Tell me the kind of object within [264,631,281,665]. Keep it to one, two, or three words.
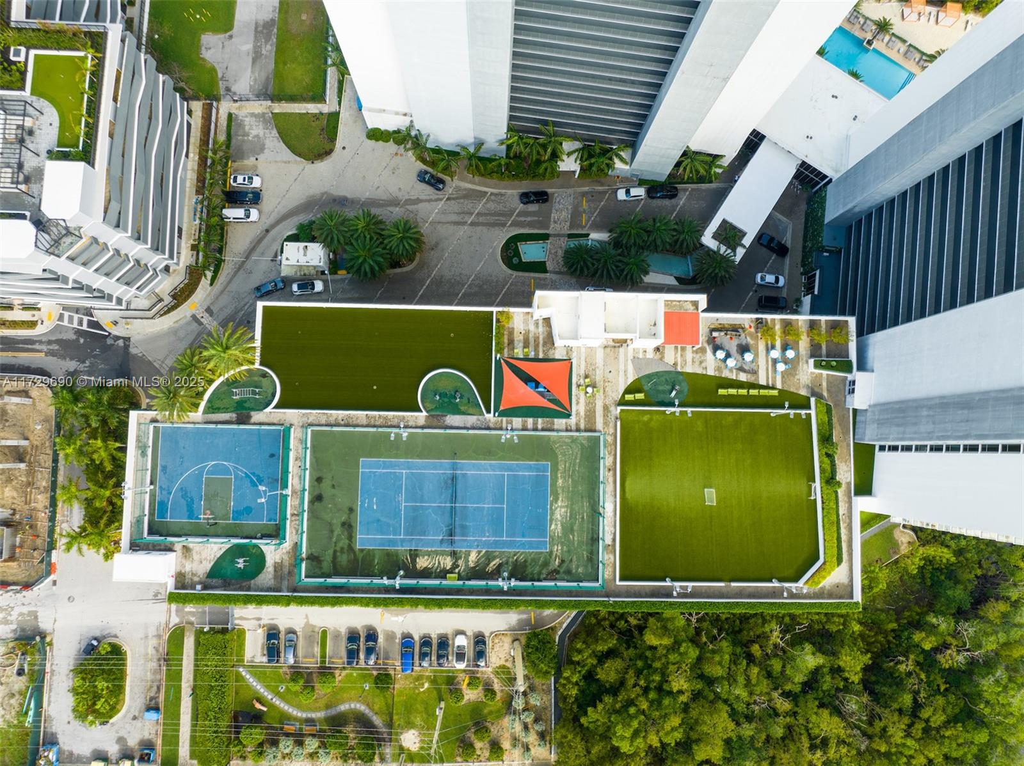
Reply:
car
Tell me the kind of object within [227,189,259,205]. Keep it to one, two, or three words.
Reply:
car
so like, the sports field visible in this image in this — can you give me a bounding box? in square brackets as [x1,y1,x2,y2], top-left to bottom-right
[617,397,826,587]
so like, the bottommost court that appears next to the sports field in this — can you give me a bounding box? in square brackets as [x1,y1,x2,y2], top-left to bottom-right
[305,431,600,580]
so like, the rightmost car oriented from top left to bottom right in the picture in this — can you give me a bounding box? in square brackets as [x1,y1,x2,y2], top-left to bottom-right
[758,233,787,256]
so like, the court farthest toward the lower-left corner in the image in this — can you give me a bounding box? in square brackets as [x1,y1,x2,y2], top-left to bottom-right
[147,427,281,541]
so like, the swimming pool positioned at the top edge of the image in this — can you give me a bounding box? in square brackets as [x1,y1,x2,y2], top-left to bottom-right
[822,26,917,99]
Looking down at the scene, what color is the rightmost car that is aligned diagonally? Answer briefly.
black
